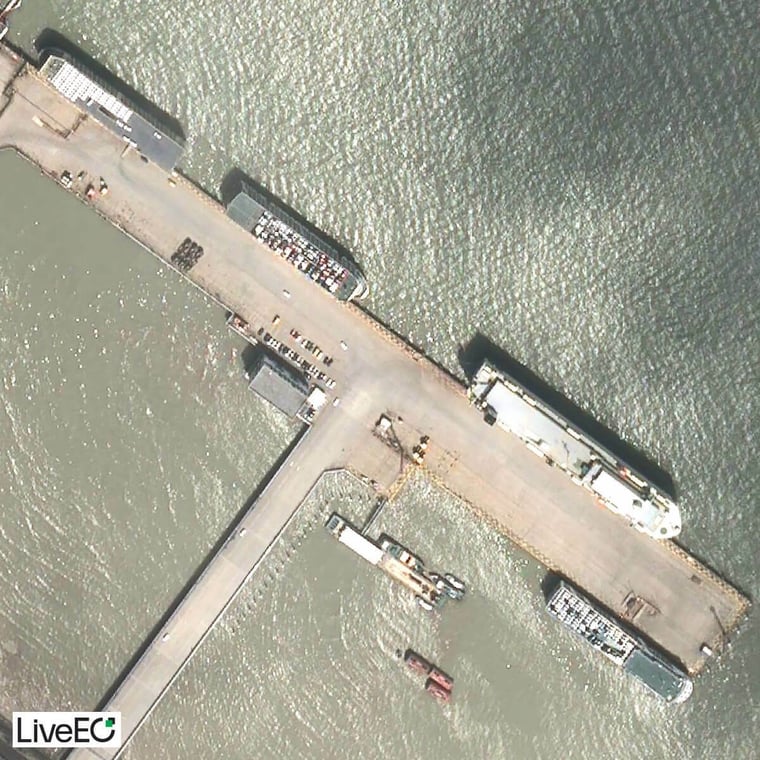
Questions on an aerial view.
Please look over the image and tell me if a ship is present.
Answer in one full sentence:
Yes, you can see a ship in this photo.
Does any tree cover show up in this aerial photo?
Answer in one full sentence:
No, the scene doesn't show any tree cover.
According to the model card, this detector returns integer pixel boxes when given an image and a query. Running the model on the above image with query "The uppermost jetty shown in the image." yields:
[0,42,24,110]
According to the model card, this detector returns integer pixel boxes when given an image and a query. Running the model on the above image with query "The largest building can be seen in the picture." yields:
[248,354,309,418]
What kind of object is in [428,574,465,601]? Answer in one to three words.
boat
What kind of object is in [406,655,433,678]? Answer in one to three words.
ship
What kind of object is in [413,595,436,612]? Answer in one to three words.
boat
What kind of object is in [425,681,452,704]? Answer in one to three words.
ship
